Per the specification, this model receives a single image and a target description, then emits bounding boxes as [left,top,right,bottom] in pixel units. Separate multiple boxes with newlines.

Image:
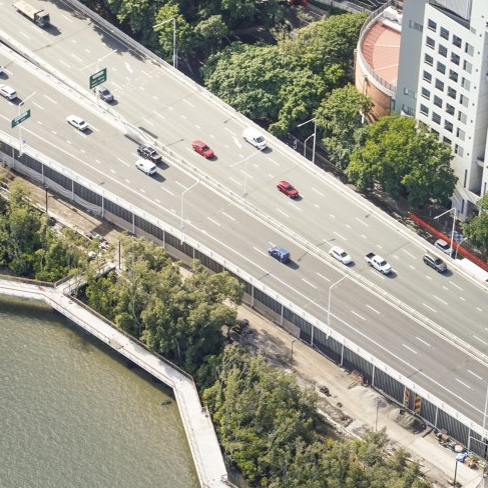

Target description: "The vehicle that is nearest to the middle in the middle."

[269,248,292,264]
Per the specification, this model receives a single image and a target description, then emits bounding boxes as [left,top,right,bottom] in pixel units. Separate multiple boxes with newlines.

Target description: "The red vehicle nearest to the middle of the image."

[277,182,301,198]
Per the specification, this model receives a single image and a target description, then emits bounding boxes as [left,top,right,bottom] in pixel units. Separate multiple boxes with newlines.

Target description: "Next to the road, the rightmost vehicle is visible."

[458,255,488,280]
